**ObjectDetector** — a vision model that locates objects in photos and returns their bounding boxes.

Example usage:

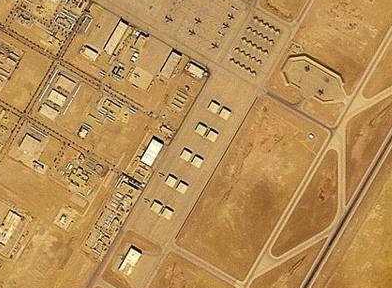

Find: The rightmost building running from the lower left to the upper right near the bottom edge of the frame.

[118,248,141,276]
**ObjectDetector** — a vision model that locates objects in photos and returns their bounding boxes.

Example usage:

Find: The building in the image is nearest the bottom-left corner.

[0,212,20,247]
